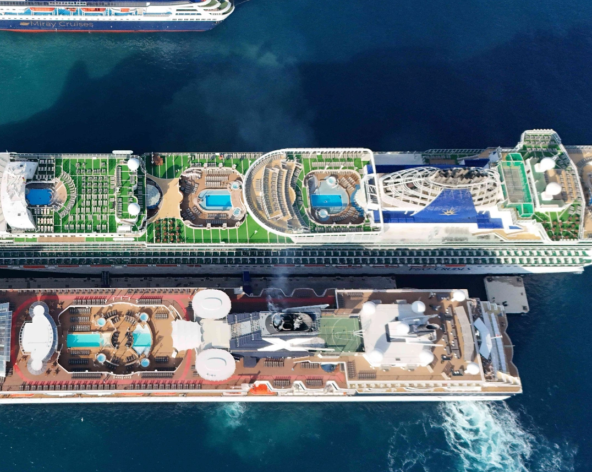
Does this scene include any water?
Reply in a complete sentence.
Yes, water can be seen from above here.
